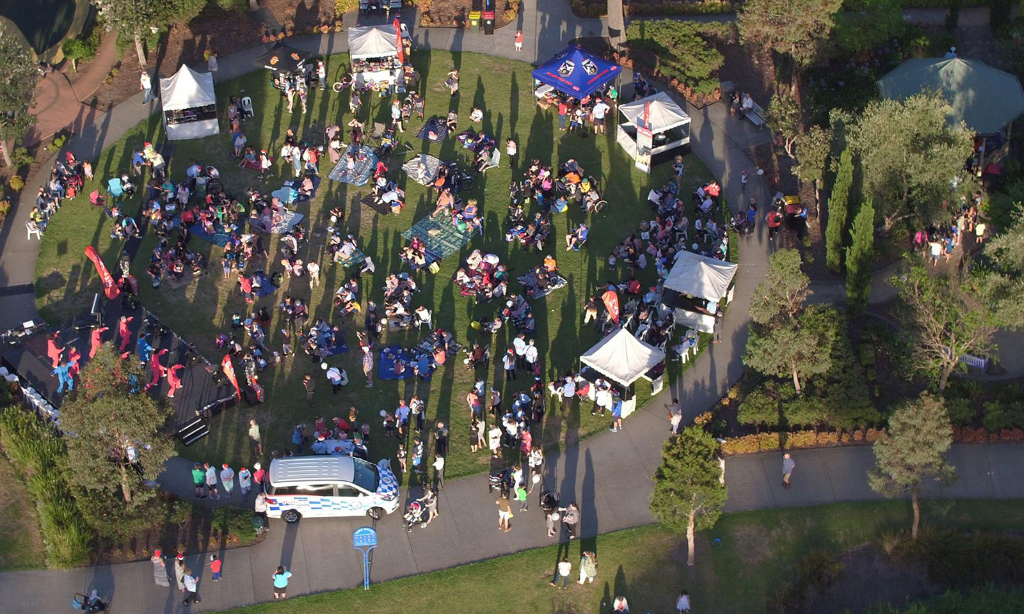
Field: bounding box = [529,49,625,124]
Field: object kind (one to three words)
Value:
gazebo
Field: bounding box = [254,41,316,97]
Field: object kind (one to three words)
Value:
gazebo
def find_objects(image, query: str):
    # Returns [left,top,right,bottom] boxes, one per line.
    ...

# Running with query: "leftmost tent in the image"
[158,67,222,140]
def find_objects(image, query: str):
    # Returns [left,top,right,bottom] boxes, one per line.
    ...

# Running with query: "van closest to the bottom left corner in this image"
[260,456,405,525]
